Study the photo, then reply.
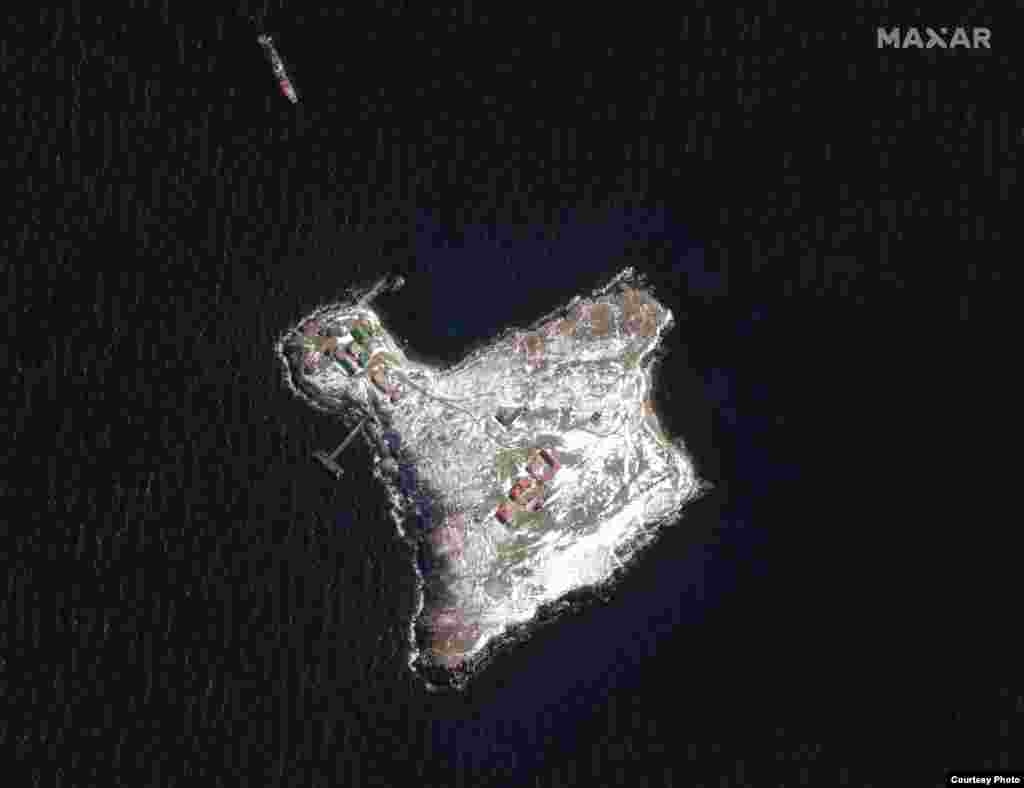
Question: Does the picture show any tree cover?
No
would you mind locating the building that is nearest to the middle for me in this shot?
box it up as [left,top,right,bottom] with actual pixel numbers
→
[490,404,522,430]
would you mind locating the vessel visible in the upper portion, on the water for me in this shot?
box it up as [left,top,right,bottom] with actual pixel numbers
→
[269,45,299,104]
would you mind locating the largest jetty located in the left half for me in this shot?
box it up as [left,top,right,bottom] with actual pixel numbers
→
[312,417,367,474]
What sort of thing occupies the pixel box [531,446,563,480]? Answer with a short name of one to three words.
building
